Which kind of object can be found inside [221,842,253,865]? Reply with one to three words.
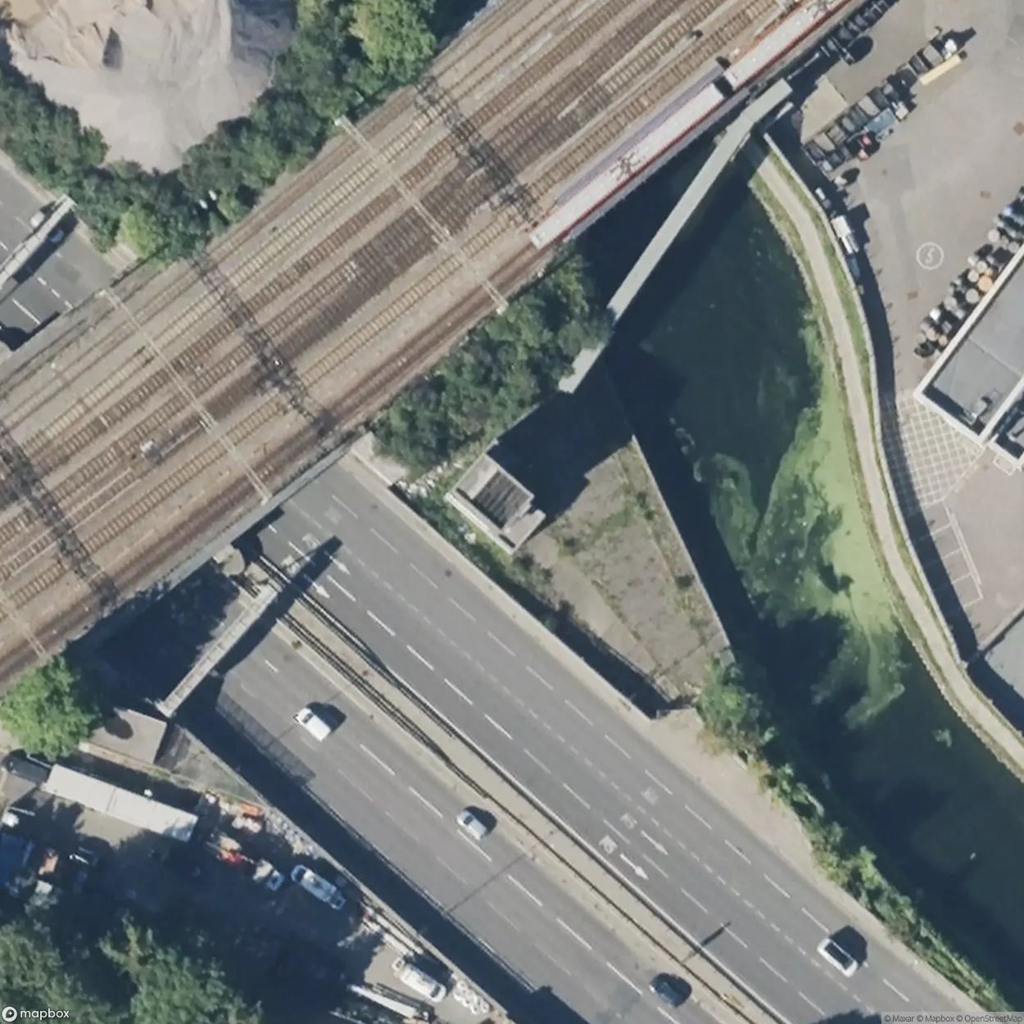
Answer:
work vehicle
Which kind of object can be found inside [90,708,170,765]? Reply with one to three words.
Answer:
shed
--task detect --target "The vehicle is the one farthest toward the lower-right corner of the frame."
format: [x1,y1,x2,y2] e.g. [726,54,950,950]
[816,936,858,976]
